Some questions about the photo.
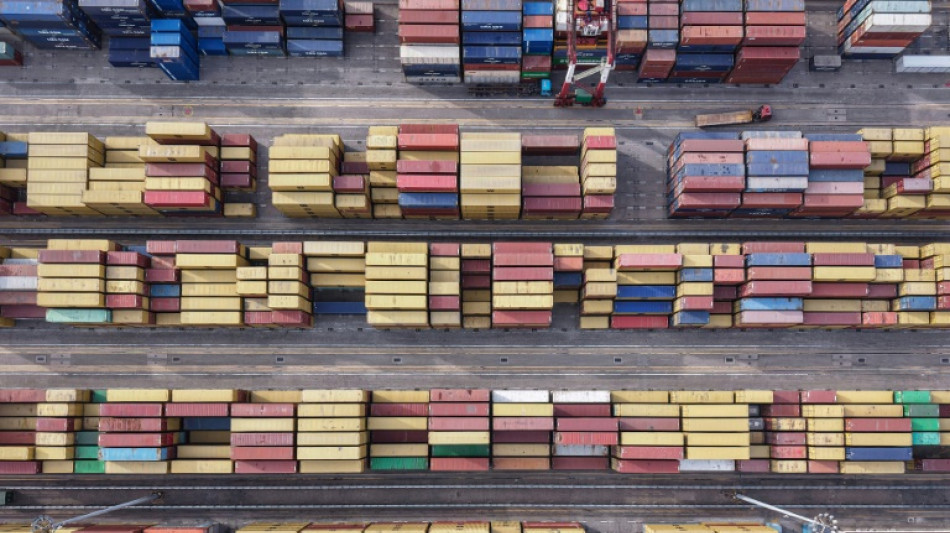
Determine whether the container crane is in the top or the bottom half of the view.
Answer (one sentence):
The container crane sits in the top half of the picture.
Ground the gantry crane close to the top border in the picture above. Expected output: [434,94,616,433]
[553,0,619,104]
